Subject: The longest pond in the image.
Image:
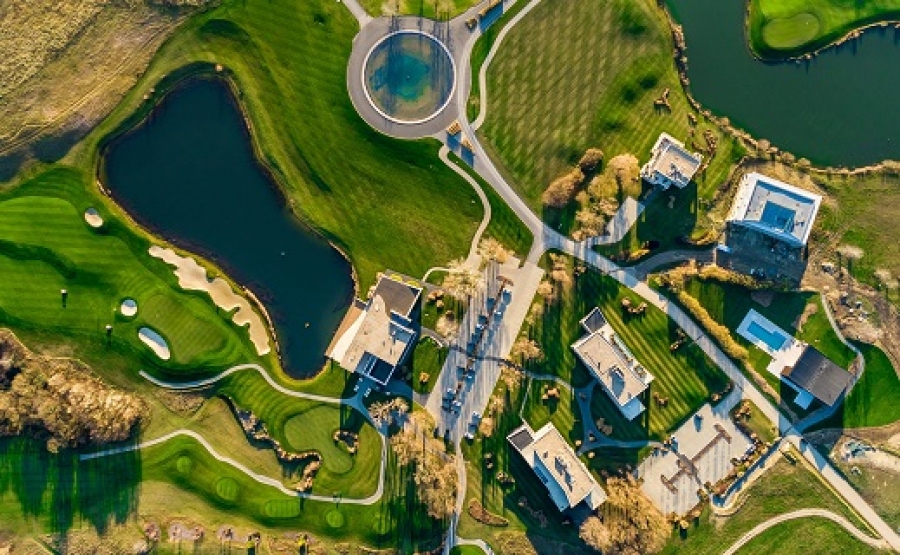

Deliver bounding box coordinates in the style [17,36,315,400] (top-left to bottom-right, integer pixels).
[107,77,356,378]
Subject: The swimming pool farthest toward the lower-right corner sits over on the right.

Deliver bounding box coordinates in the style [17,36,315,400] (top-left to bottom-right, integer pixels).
[737,310,810,380]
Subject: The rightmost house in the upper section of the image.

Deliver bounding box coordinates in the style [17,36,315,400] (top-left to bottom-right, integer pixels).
[730,172,821,250]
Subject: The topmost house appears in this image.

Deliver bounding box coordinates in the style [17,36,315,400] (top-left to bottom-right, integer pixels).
[639,133,704,191]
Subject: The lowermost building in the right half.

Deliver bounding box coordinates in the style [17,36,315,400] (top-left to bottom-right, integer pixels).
[506,418,606,512]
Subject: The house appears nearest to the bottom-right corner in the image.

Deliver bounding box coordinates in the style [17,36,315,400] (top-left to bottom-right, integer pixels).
[780,346,853,409]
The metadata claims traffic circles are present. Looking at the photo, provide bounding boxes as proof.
[346,0,519,140]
